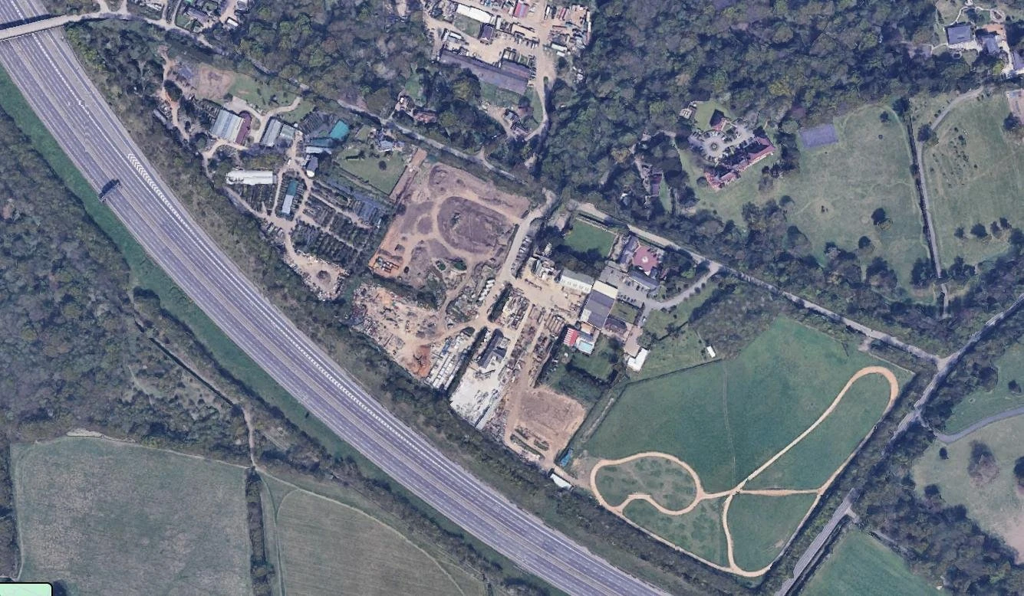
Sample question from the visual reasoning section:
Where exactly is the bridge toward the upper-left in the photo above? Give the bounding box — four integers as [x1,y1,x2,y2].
[0,10,86,39]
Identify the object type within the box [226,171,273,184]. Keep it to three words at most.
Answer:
greenhouse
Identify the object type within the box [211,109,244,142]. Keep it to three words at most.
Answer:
barn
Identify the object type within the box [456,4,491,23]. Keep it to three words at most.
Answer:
shed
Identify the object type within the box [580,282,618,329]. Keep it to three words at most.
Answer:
building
